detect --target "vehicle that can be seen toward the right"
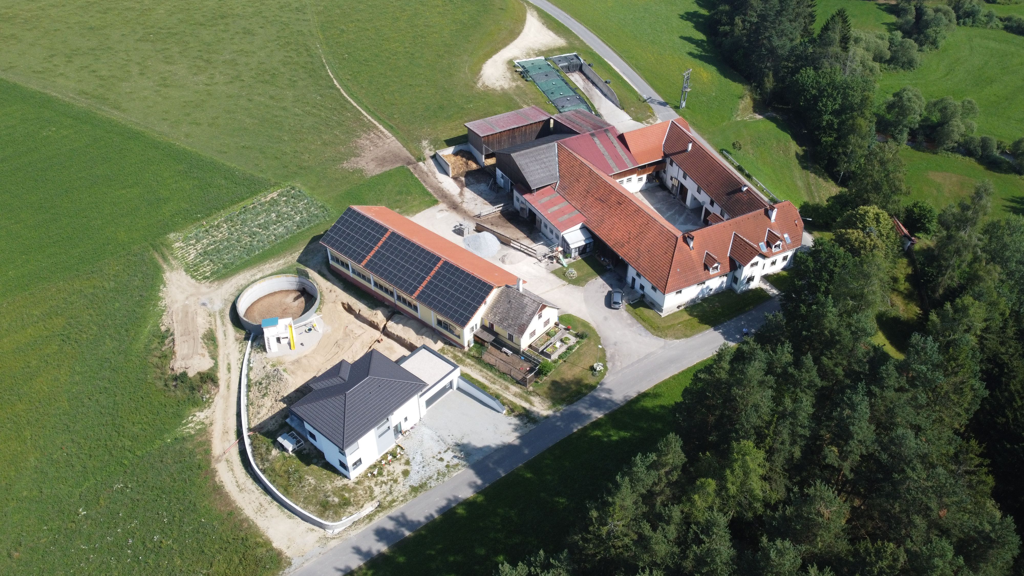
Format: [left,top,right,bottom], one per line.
[611,288,624,308]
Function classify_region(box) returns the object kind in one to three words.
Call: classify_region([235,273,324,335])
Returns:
storage tank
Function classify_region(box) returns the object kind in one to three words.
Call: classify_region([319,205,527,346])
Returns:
shed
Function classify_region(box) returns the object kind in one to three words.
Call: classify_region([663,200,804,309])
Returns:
house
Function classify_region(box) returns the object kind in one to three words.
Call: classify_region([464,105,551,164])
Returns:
barn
